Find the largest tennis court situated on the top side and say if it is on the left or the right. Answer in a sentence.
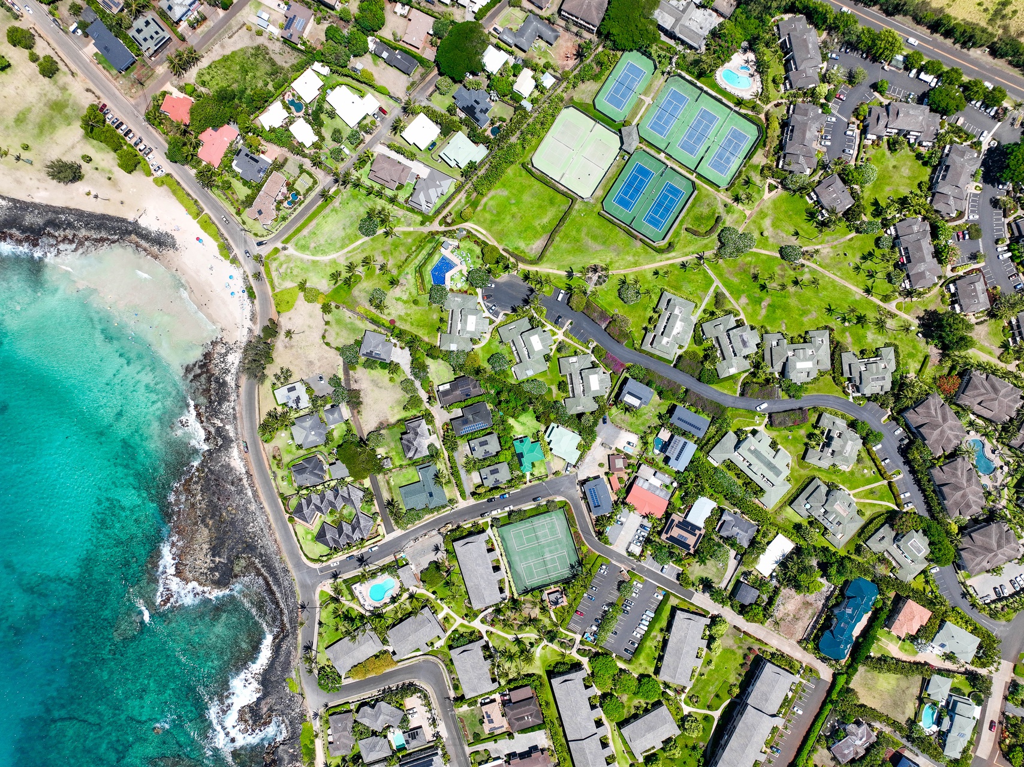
The largest tennis court situated on the top side is on the right side of the image.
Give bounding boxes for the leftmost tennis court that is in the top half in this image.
[532,103,622,199]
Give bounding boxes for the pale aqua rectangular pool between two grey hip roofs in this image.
[388,728,406,751]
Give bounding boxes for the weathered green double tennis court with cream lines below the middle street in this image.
[495,510,578,597]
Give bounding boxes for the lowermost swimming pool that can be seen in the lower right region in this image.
[920,702,939,732]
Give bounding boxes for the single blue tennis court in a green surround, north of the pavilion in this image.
[594,48,658,122]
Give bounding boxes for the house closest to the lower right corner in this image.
[937,694,981,759]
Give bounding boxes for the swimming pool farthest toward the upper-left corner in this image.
[285,93,305,115]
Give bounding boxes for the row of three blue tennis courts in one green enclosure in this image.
[639,72,767,188]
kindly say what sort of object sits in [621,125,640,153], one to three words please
building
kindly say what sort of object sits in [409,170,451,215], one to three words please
house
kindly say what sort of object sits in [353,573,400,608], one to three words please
swimming pool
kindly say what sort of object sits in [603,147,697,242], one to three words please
tennis court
